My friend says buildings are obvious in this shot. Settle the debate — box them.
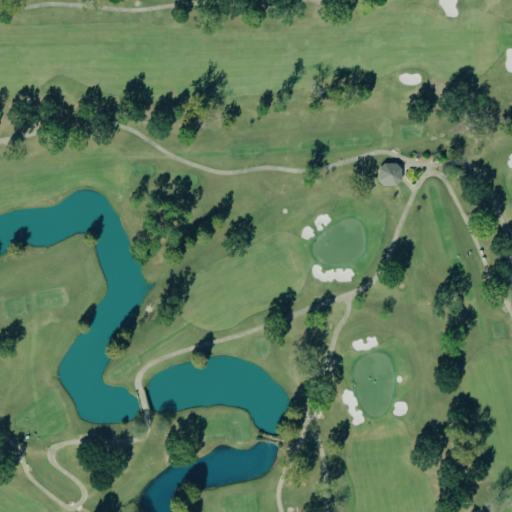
[379,163,402,186]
